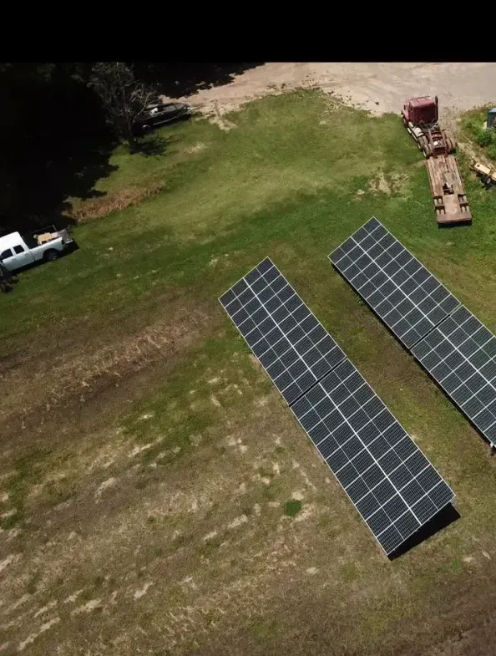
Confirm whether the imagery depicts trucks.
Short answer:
Yes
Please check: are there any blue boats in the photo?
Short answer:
No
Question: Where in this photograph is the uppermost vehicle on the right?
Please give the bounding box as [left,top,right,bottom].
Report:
[407,98,452,159]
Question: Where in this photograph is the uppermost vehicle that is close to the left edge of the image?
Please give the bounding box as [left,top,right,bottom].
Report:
[0,221,77,272]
